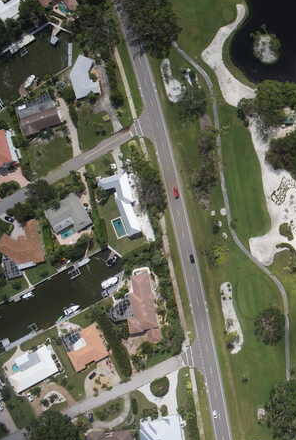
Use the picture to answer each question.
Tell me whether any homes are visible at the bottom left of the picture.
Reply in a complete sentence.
Yes, there is a home at the bottom left of the picture.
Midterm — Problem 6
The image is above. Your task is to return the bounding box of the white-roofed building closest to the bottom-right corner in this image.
[141,413,185,440]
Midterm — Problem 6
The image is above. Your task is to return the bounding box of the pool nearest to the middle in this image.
[111,215,129,240]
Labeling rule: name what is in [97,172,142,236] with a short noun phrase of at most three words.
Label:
house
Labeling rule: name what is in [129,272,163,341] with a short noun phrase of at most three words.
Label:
house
